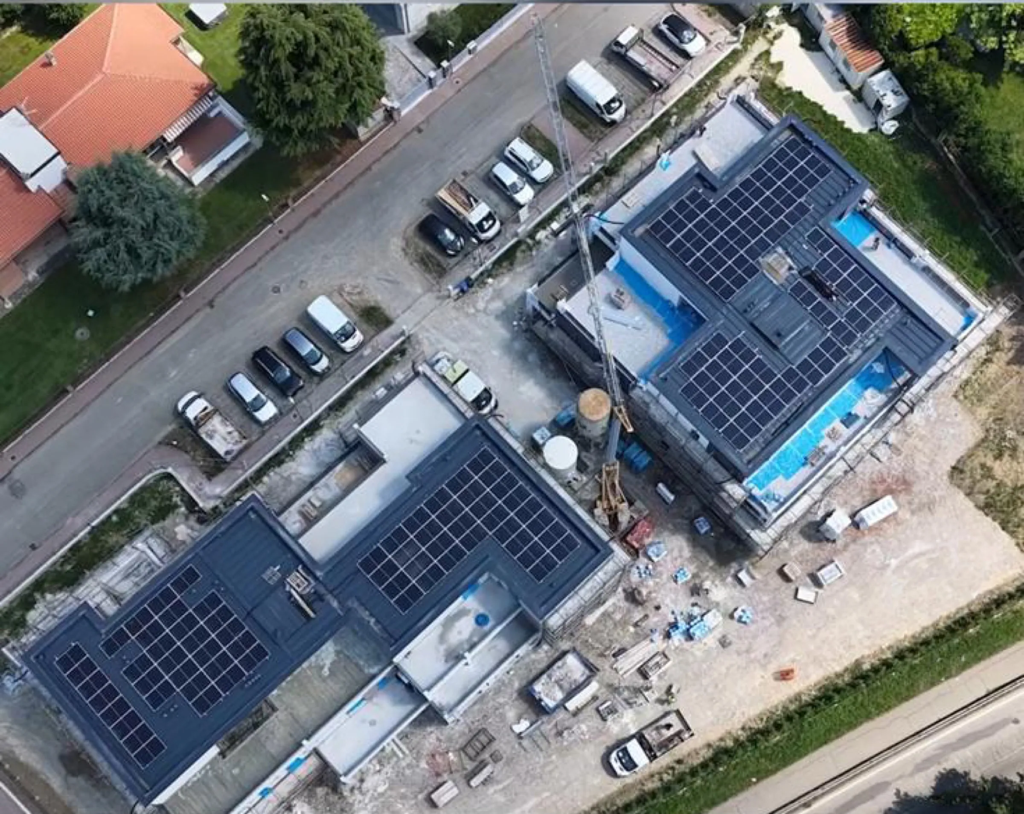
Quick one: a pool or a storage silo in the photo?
storage silo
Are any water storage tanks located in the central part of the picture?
Yes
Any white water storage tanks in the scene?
Yes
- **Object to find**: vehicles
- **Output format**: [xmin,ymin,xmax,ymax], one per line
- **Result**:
[279,322,332,379]
[306,293,364,352]
[488,161,535,209]
[417,211,466,261]
[604,704,701,786]
[504,136,554,186]
[604,18,679,91]
[437,174,502,245]
[656,10,708,63]
[224,370,282,426]
[171,390,249,464]
[569,56,623,125]
[425,342,503,423]
[247,341,308,401]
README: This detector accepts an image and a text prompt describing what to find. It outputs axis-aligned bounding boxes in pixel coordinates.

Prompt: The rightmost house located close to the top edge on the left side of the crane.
[348,0,416,61]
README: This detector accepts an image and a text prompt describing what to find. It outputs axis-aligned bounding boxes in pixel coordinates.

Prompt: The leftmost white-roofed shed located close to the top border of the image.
[189,0,235,35]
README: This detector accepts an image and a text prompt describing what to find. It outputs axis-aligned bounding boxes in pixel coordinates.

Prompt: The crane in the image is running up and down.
[531,12,640,534]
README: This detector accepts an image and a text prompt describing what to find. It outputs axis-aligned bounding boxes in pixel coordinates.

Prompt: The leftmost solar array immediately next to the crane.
[359,447,578,613]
